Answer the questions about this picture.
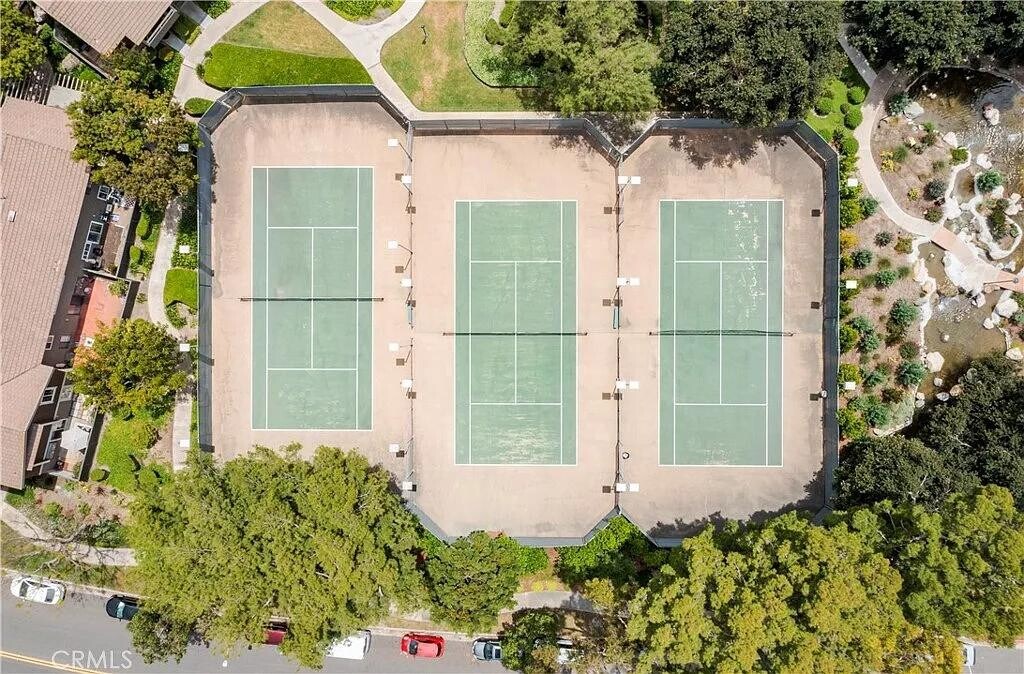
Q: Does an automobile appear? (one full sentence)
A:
Yes, there's an automobile here.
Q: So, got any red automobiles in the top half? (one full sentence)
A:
No, there's no red automobile to be seen in the top half.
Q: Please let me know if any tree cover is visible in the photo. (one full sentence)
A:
Yes, the picture does contain tree cover.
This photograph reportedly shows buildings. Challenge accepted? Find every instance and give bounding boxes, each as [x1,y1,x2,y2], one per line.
[0,96,121,491]
[30,0,190,59]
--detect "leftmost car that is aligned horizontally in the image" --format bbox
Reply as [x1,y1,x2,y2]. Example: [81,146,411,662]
[8,574,66,604]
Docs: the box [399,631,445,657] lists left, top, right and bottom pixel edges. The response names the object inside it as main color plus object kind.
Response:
red car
